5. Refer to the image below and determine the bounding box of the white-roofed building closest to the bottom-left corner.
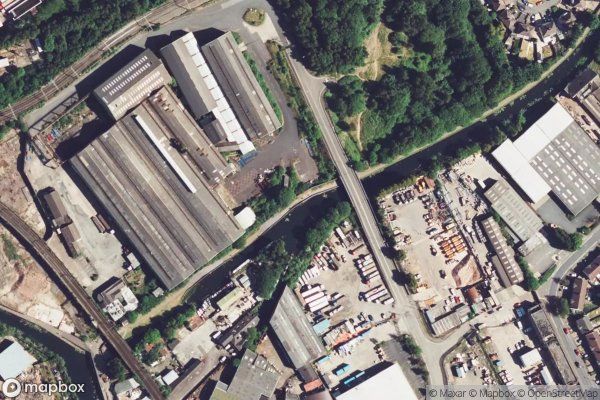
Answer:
[0,341,36,382]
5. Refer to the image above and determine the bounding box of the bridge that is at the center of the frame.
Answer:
[316,117,395,278]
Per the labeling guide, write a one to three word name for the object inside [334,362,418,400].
building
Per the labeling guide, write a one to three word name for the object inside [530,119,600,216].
building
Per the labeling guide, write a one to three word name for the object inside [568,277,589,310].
house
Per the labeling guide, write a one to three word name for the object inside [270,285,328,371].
shed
